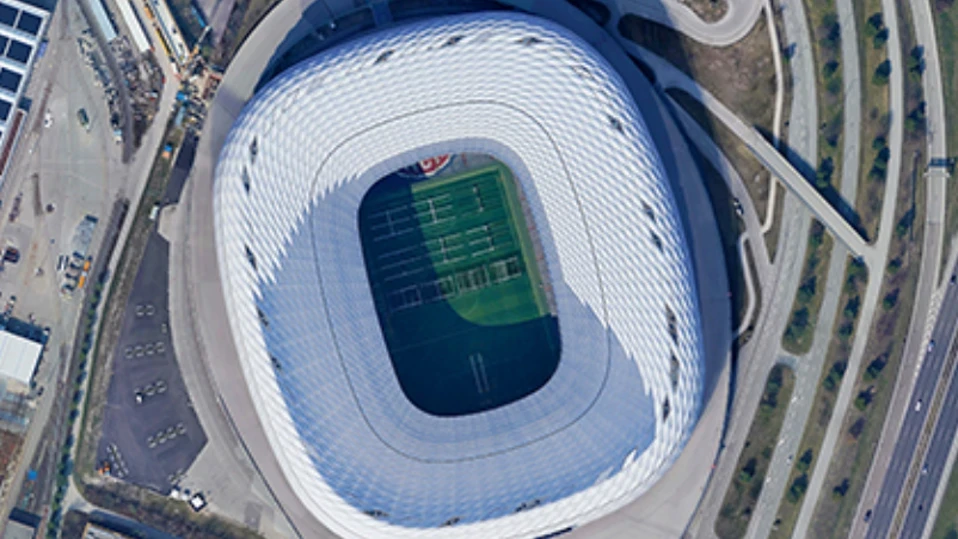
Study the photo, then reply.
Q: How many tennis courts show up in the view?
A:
0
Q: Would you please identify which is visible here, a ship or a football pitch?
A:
football pitch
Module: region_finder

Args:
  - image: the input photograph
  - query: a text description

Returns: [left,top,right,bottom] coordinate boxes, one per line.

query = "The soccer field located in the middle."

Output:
[359,164,558,416]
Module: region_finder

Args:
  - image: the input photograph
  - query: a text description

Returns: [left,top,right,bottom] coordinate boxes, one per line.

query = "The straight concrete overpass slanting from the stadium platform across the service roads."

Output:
[675,66,875,258]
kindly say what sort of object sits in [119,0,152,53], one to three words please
shed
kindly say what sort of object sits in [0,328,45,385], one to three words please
building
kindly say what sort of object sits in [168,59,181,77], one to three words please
vehicle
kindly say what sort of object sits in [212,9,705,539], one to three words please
stadium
